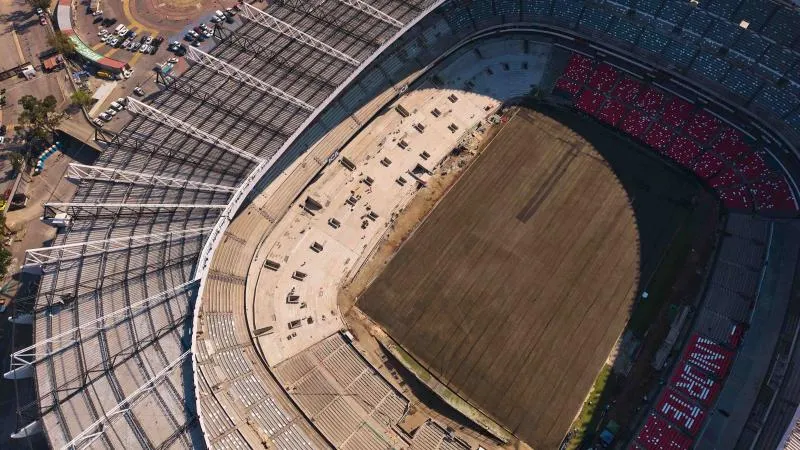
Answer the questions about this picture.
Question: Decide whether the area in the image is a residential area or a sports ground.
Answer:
sports ground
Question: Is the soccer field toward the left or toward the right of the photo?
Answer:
right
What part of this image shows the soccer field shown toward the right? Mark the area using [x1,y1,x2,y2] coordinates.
[355,107,697,450]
